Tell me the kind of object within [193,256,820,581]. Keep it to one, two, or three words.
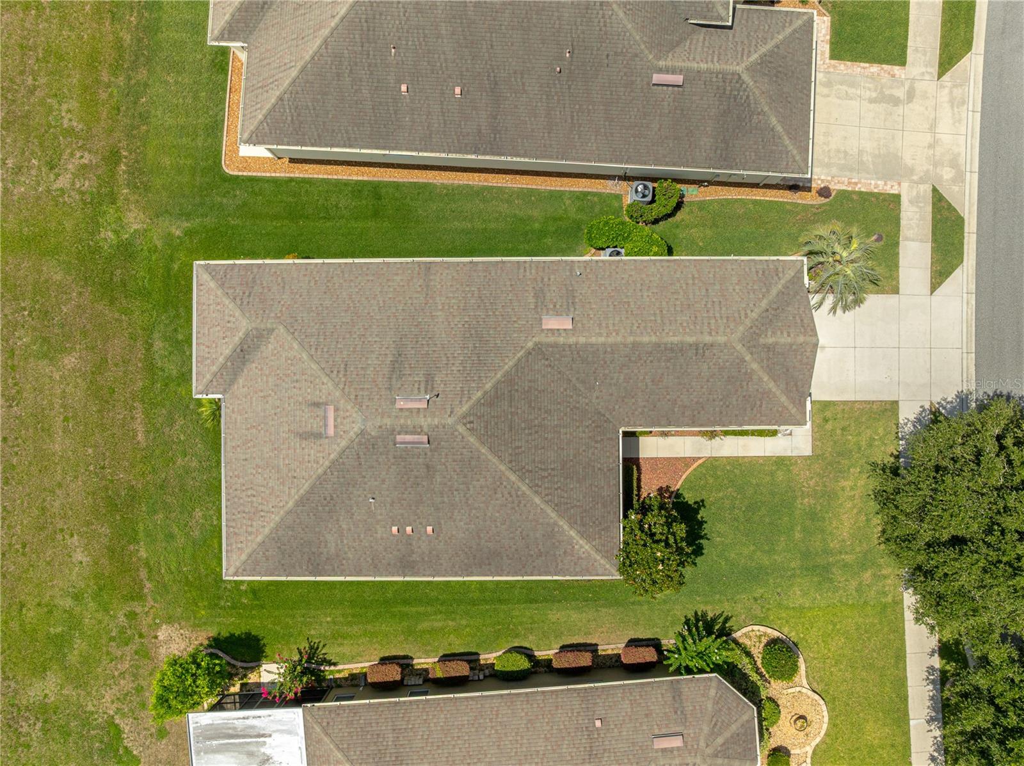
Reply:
house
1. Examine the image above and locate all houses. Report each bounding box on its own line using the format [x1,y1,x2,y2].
[185,666,761,766]
[193,256,820,581]
[207,0,817,190]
